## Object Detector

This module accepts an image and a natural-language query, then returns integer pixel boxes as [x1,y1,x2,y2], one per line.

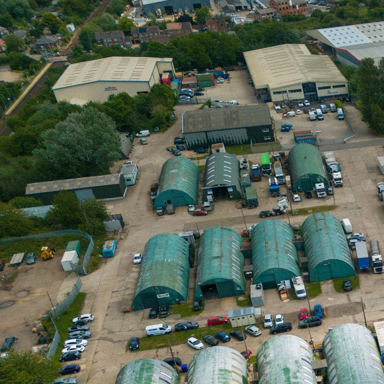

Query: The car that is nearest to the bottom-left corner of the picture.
[2,336,15,349]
